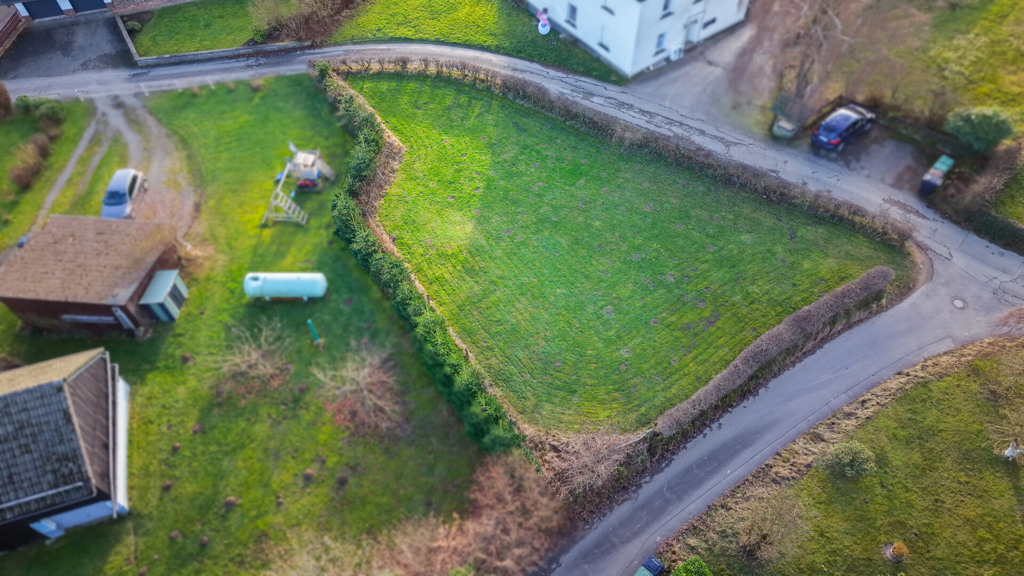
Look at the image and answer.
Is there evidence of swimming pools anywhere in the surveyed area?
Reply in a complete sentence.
No, I find no swimming pool anywhere in the image.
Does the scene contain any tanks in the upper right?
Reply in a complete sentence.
No, I see no tank in the upper right.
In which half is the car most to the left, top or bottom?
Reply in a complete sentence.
The top half of the photo is where the car most to the left is.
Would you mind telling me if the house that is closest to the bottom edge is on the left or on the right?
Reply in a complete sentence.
It is on the left.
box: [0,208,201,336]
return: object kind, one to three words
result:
shed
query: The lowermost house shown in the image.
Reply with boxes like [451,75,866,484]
[0,347,129,550]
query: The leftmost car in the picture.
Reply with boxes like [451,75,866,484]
[93,170,144,214]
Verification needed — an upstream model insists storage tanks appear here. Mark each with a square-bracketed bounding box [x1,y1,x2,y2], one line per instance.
[243,275,327,304]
